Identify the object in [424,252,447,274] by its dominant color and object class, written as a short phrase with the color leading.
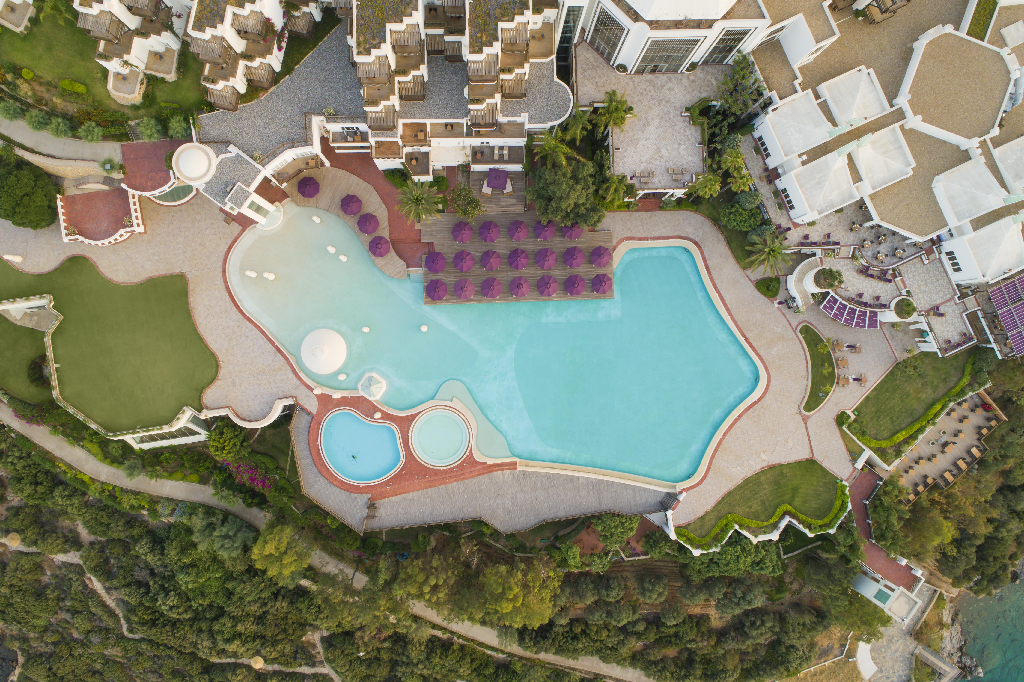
purple umbrella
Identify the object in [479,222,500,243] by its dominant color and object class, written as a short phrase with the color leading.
purple umbrella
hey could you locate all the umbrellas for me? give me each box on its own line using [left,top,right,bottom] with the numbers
[479,248,502,271]
[298,176,320,198]
[849,375,864,383]
[563,246,585,268]
[562,222,583,242]
[509,276,532,299]
[369,235,392,257]
[452,222,473,243]
[480,277,502,299]
[425,278,448,301]
[424,252,447,274]
[564,274,587,297]
[487,169,508,191]
[537,275,559,297]
[508,219,530,241]
[340,194,363,217]
[507,248,530,270]
[452,250,474,272]
[454,278,476,301]
[590,245,612,268]
[590,272,612,295]
[774,300,788,307]
[535,248,557,270]
[358,213,380,235]
[479,222,500,243]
